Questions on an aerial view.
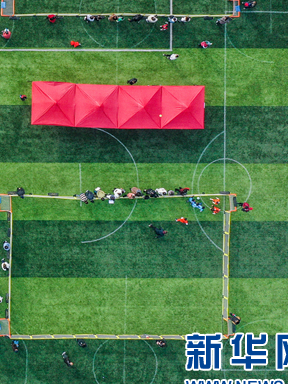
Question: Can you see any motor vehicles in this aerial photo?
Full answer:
No, I can see no motor vehicle in this picture.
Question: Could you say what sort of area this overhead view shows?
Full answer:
This looks like a sports ground.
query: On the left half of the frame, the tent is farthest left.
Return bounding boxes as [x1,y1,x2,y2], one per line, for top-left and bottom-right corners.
[26,82,75,127]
